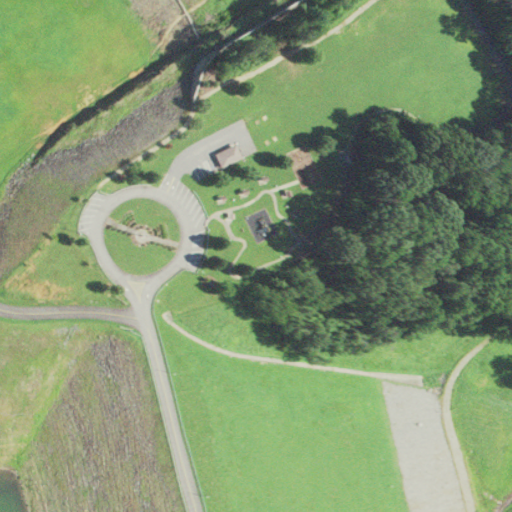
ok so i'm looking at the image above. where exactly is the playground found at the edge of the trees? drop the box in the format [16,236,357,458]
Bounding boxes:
[246,209,276,243]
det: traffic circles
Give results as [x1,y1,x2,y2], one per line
[78,119,256,316]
